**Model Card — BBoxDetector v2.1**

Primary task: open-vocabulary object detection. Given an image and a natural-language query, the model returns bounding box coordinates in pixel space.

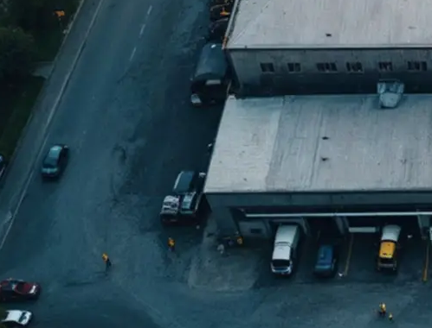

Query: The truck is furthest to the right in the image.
[369,211,402,270]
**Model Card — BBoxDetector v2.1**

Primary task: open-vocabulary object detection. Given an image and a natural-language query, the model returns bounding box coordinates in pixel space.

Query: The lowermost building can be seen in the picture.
[203,79,432,234]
